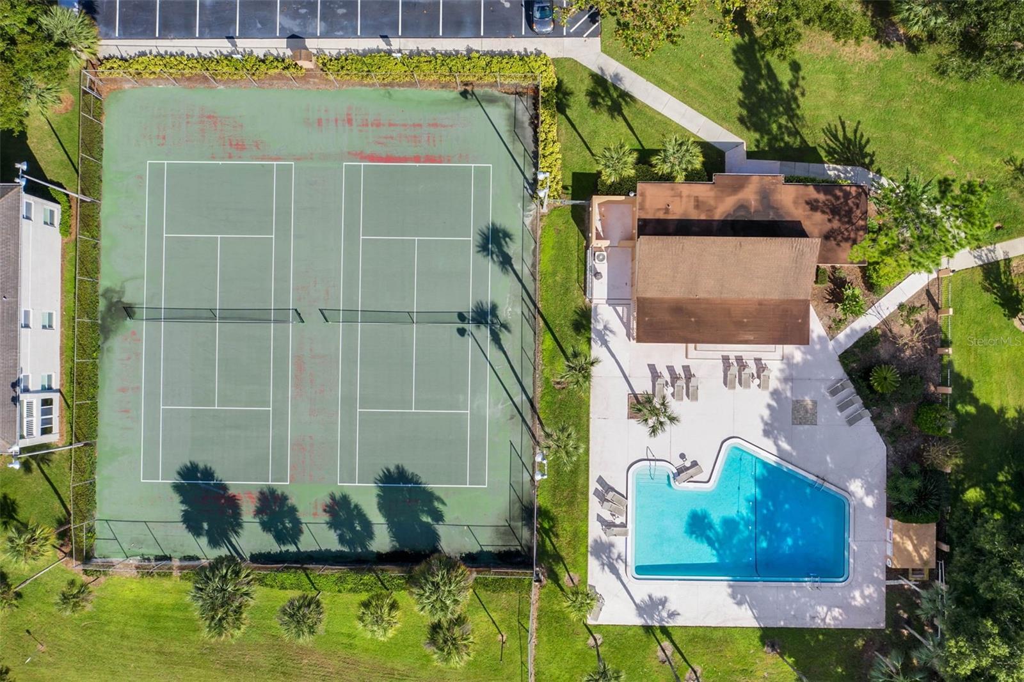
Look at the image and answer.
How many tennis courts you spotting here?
2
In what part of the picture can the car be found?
top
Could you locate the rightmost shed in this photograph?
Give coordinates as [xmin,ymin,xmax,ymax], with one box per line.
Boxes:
[886,518,937,568]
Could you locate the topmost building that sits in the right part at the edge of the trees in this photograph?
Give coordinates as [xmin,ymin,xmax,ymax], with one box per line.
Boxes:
[587,174,868,360]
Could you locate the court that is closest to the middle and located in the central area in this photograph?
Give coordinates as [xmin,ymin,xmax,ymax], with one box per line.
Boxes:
[338,163,492,488]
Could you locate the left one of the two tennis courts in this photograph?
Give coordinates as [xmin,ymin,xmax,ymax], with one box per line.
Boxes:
[141,161,294,484]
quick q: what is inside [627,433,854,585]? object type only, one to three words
swimming pool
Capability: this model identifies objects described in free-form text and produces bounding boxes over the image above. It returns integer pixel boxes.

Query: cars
[529,0,558,33]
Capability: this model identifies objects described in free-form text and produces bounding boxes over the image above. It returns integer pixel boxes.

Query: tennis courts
[338,163,492,488]
[141,161,294,484]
